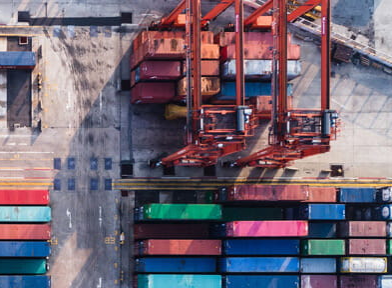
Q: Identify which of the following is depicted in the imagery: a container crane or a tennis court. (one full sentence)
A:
Of the two, only a container crane appears.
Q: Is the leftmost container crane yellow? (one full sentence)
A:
No, the color of the leftmost container crane is red.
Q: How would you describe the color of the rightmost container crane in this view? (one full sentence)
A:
The rightmost container crane is red.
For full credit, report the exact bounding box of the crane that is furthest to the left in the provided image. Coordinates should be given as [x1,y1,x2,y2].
[137,0,251,165]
